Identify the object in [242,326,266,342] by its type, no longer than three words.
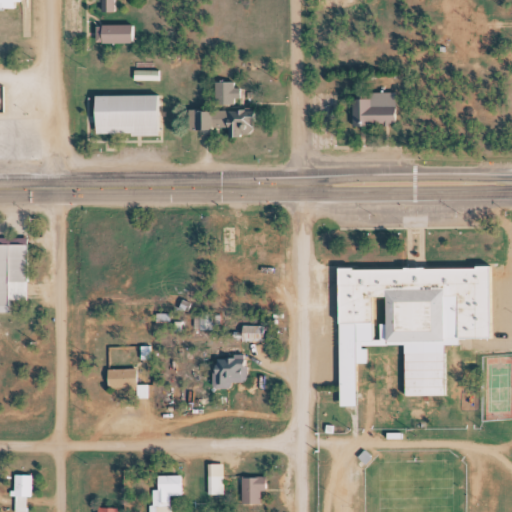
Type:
house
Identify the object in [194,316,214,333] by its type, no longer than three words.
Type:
shed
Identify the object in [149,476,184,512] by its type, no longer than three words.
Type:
house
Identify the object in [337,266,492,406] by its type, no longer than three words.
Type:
building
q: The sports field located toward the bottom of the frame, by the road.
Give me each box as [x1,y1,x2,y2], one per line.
[366,451,466,512]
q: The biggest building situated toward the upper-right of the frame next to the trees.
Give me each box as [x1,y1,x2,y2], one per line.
[352,90,398,126]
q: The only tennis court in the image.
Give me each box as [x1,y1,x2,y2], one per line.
[487,356,512,420]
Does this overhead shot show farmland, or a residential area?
residential area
